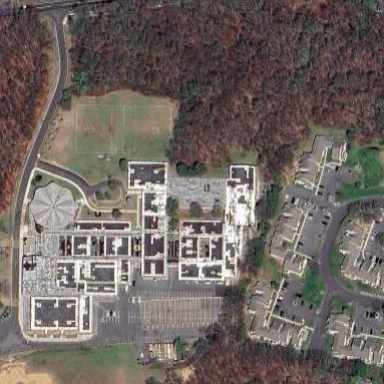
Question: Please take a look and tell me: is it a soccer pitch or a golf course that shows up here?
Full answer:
This aerial view contains a soccer pitch.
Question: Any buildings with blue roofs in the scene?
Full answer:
No, I find no building with a blue roof anywhere in the image.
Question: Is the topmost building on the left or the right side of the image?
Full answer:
You can find the topmost building on the right side of the picture.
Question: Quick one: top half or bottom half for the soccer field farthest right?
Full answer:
You can find the soccer field farthest right in the top half.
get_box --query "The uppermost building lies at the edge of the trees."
[294,133,349,187]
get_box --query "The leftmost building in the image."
[29,181,78,230]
